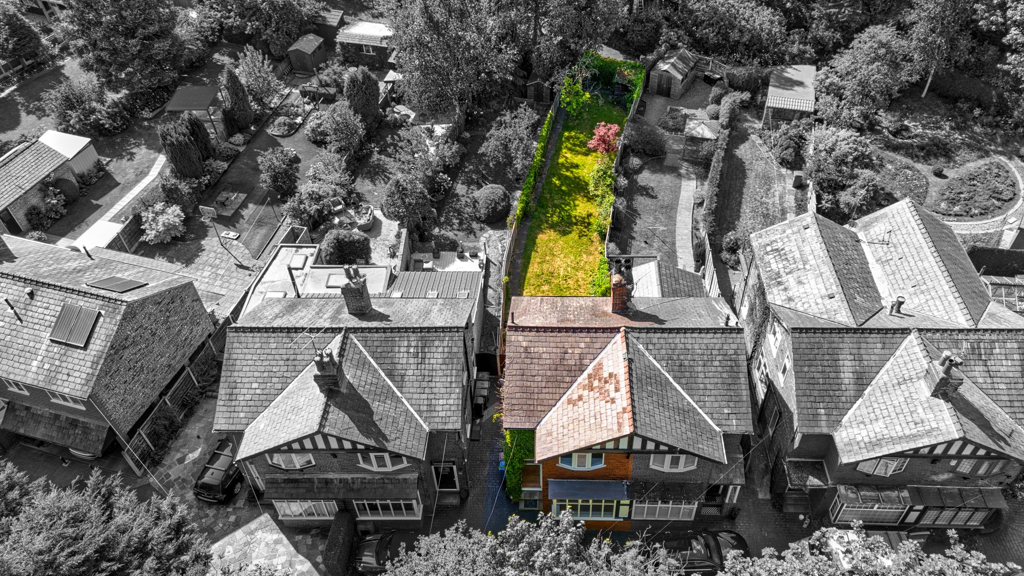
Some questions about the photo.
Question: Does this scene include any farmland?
No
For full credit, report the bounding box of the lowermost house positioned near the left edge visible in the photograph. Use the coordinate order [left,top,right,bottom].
[0,237,222,463]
